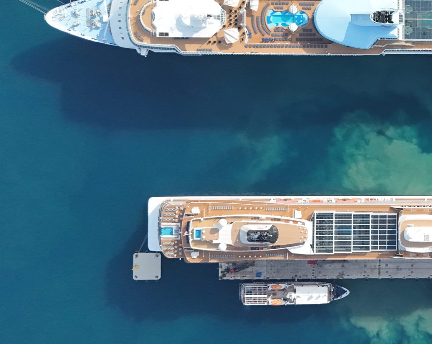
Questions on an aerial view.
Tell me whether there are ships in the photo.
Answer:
Yes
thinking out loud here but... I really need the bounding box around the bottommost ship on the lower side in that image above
[239,282,350,307]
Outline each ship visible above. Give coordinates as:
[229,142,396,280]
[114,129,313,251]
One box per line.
[239,282,350,307]
[42,0,432,56]
[149,191,432,263]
